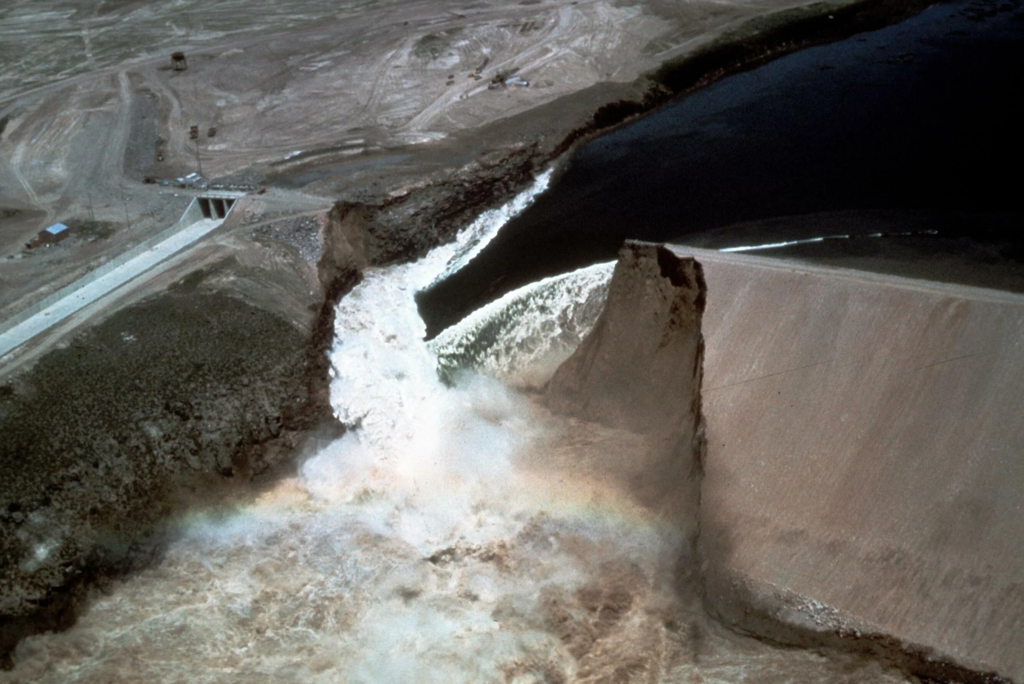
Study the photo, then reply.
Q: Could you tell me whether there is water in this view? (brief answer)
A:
Yes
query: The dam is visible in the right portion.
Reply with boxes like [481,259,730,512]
[546,235,1024,683]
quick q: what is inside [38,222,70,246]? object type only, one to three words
shed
